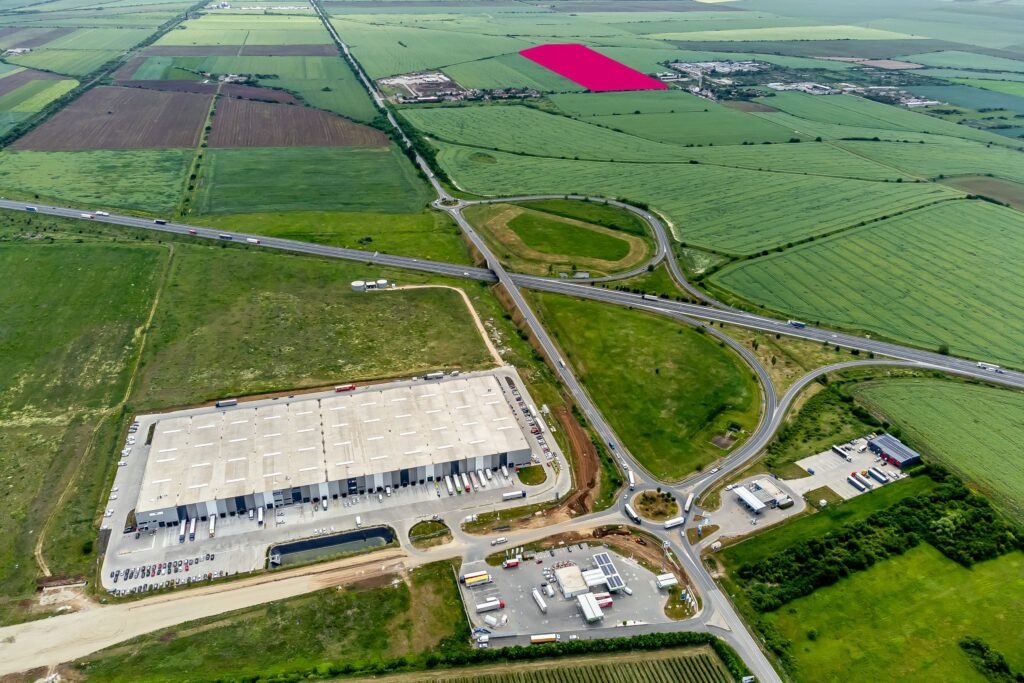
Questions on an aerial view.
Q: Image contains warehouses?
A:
Yes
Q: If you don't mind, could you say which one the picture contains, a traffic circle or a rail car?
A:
traffic circle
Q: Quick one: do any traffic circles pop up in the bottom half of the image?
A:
Yes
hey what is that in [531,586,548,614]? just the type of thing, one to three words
vehicle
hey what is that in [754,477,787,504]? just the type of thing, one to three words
building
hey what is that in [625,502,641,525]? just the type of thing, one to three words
vehicle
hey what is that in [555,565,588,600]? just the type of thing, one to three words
building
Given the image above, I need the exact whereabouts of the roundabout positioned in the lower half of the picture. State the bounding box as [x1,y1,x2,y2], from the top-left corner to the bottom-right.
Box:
[618,478,696,533]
